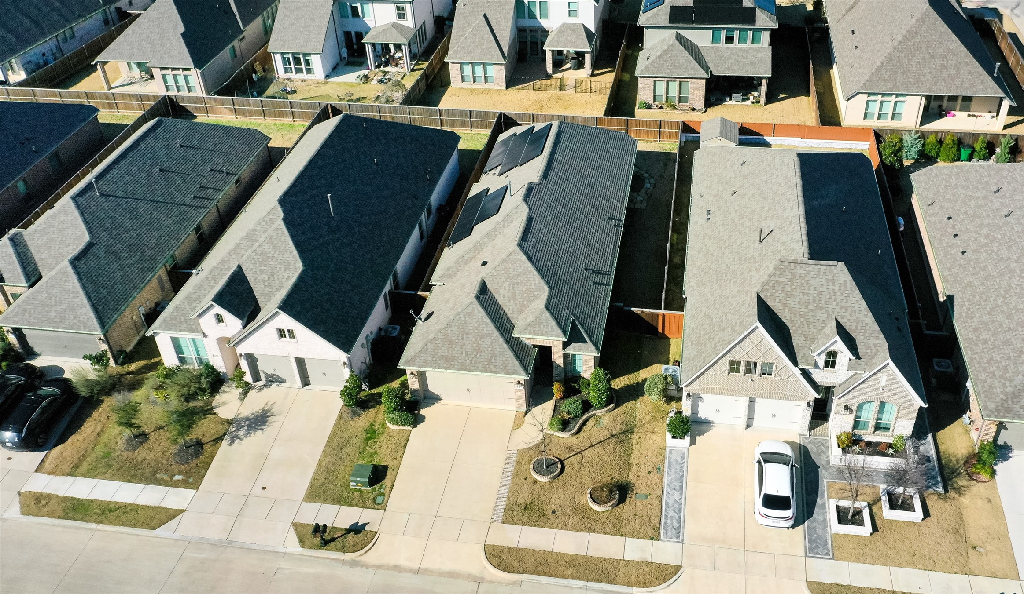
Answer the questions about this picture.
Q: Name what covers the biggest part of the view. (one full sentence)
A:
The bulk of the photo consists of buildings.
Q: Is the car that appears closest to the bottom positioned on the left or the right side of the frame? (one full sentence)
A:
The car that appears closest to the bottom appears in the right half of the scene.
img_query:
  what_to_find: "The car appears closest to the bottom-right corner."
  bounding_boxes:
[750,440,800,532]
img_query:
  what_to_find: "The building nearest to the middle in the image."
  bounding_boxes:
[396,120,639,414]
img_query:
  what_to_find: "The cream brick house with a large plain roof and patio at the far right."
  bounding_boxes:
[822,0,1017,132]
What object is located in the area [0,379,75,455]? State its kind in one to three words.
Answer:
car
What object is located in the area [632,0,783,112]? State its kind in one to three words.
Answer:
house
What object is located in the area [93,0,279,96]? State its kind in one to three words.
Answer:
house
